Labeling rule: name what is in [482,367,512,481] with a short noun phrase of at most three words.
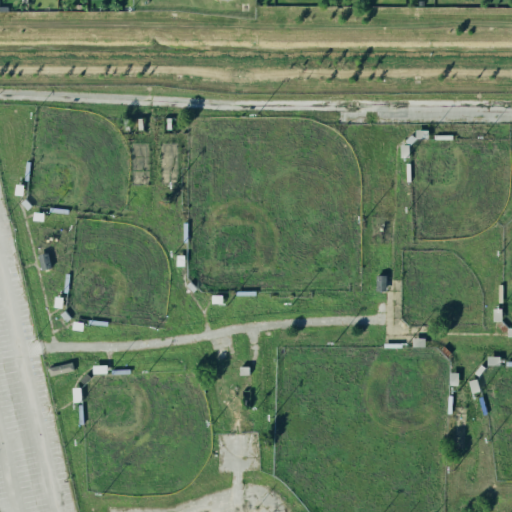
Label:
baseball field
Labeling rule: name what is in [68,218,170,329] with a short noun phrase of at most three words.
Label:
baseball field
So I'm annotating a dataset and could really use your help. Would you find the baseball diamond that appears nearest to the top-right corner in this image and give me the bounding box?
[412,139,511,240]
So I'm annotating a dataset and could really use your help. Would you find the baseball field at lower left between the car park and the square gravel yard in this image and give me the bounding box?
[84,373,212,496]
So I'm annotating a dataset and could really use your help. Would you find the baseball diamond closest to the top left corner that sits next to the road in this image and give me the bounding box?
[28,104,130,213]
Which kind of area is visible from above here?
sports ground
